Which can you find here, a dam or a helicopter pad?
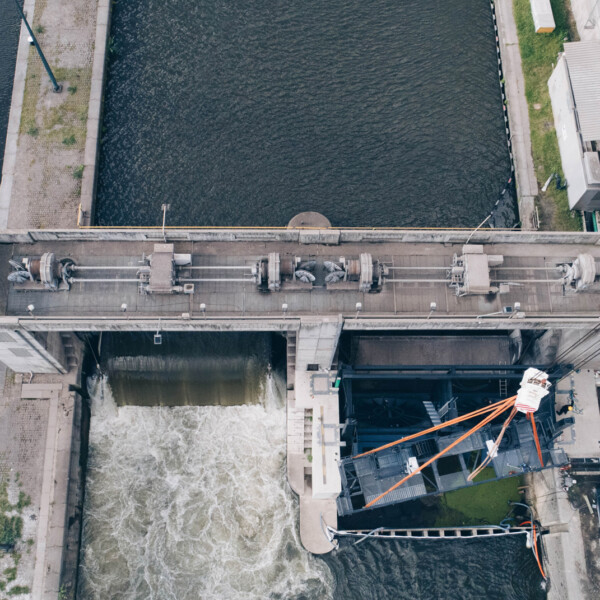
dam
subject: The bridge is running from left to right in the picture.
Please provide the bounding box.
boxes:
[0,225,600,371]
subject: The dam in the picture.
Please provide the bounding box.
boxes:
[95,332,286,407]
